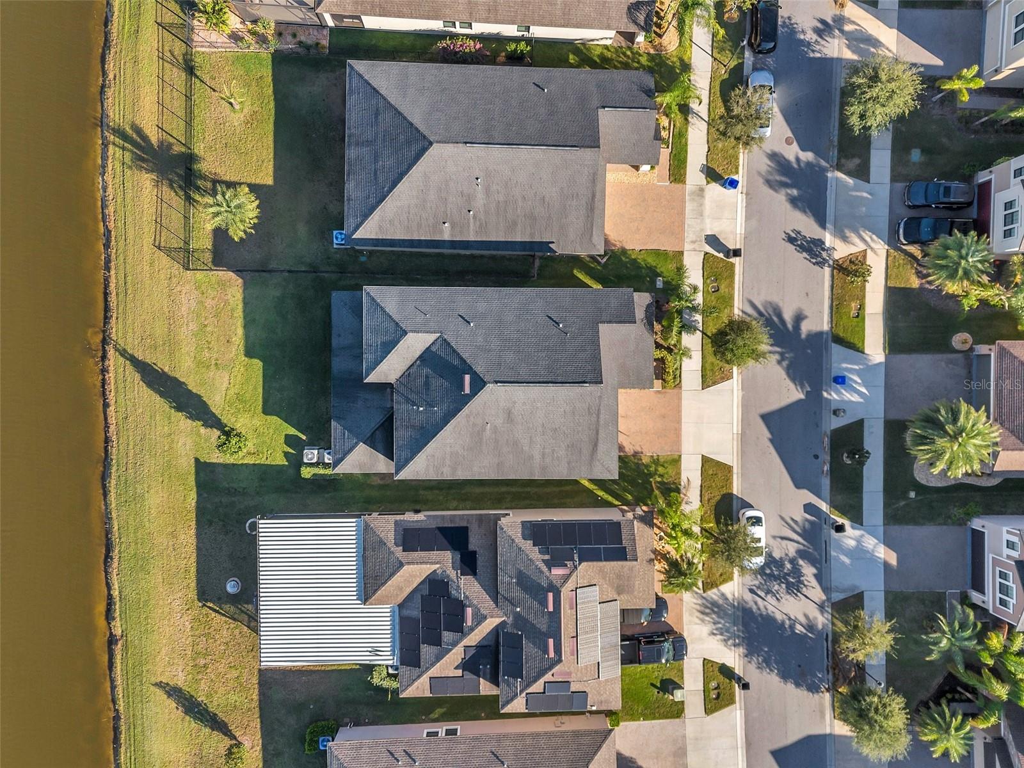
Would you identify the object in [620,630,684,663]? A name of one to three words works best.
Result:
truck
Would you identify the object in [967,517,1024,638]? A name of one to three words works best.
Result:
house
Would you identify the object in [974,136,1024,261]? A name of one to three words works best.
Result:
house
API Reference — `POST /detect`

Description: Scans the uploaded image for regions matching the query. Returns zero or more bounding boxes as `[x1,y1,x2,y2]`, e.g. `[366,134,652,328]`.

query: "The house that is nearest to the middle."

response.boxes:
[331,285,656,480]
